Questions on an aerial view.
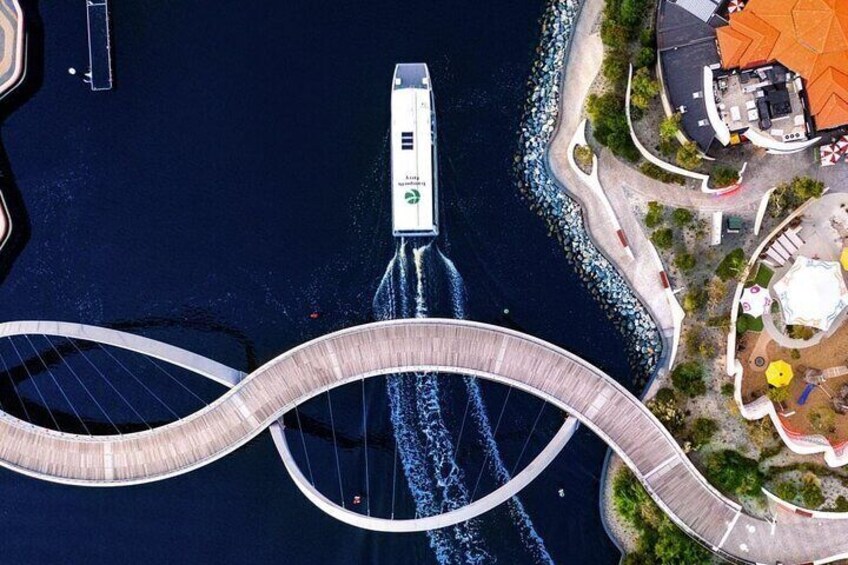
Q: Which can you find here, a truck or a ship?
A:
ship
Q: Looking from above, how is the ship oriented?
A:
up and down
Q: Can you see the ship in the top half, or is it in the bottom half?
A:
top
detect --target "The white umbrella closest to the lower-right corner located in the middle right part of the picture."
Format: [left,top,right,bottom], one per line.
[740,286,770,316]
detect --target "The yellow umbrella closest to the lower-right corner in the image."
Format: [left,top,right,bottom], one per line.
[764,360,789,385]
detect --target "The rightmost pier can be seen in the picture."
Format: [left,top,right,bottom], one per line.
[84,0,113,91]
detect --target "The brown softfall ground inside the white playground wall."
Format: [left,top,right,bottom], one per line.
[735,209,848,457]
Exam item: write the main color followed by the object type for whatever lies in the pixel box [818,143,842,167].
white umbrella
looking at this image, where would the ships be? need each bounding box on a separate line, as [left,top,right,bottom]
[389,63,438,236]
